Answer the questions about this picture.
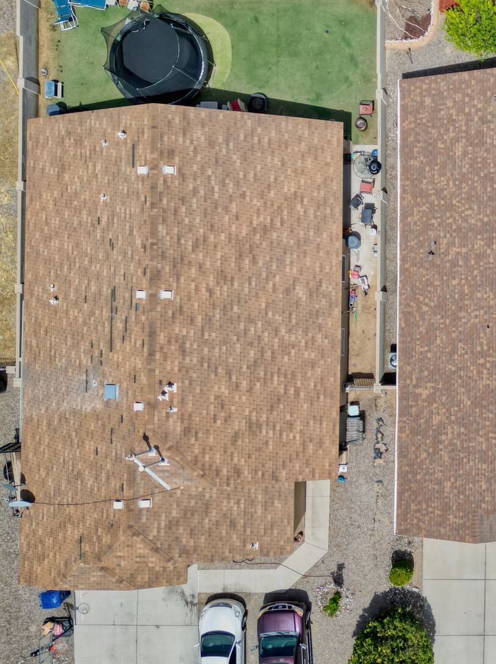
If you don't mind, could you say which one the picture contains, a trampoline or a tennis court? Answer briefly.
trampoline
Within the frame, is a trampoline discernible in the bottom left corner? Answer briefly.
No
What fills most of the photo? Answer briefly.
buildings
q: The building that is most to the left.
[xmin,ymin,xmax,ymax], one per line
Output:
[17,103,353,594]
